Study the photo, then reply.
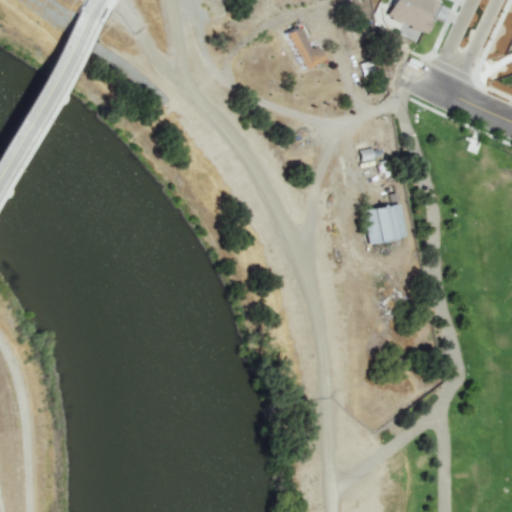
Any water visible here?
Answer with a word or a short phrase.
Yes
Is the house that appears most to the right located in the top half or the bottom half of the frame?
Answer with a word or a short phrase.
top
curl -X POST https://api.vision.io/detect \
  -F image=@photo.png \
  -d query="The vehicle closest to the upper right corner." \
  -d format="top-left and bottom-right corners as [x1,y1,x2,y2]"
[408,57,426,70]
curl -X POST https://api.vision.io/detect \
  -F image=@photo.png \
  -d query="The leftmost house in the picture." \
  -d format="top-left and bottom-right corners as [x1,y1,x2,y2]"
[288,27,327,69]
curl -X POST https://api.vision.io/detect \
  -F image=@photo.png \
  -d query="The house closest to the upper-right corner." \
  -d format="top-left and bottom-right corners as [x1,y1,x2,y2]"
[389,0,443,42]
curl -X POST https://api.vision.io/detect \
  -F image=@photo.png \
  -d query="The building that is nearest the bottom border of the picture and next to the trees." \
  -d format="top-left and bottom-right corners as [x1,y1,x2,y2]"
[369,204,408,244]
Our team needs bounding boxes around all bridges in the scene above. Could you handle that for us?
[0,0,117,212]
